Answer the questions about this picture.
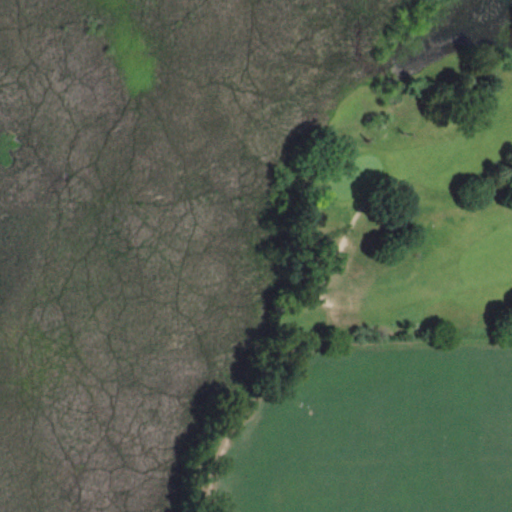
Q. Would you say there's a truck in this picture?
No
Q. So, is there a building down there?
No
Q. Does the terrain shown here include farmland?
Yes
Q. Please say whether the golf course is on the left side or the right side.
right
